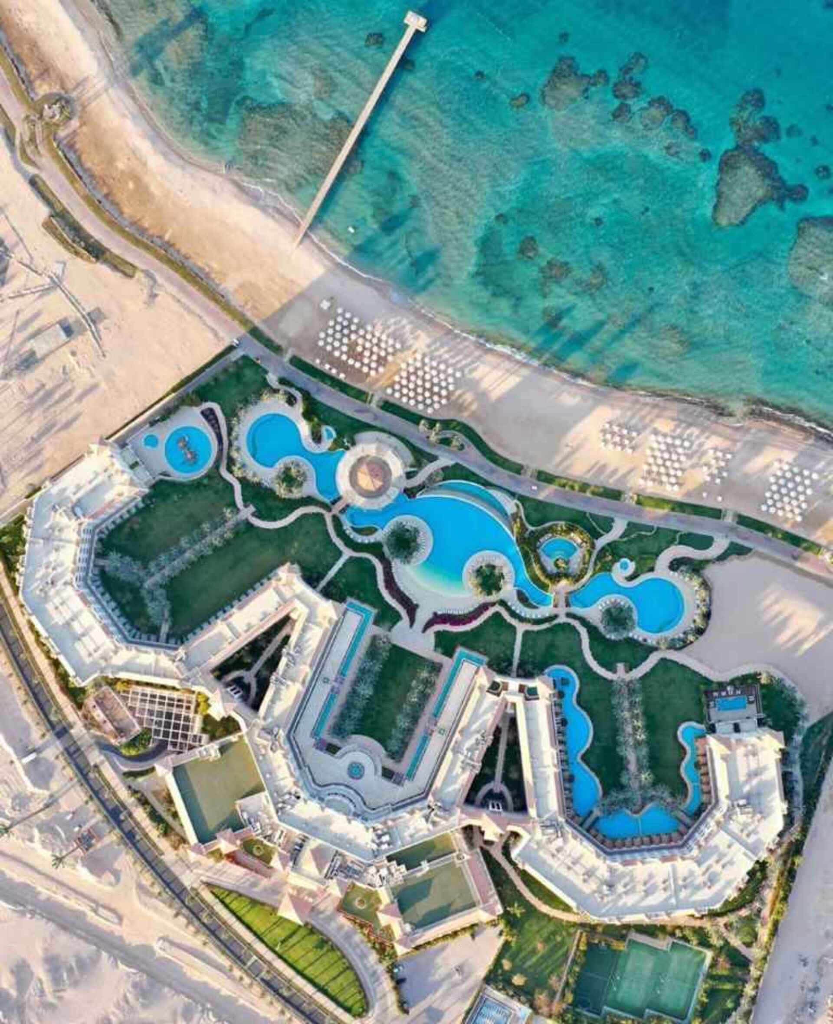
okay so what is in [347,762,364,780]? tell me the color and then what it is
blue fountain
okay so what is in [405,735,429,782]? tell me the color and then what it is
blue swimming pool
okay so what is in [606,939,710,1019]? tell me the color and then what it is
green tennis court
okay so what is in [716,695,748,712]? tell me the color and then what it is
blue swimming pool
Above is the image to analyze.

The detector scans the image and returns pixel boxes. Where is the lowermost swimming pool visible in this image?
[592,802,681,838]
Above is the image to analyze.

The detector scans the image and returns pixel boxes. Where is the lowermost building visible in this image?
[464,985,531,1024]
